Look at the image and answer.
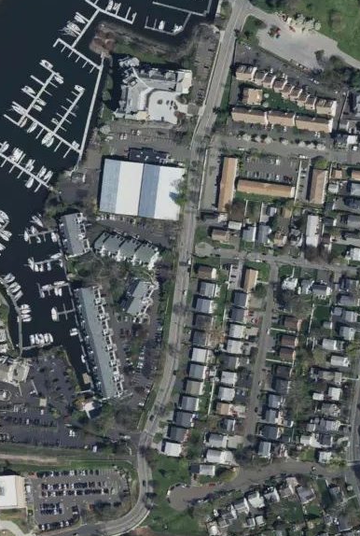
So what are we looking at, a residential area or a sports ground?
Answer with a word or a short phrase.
residential area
